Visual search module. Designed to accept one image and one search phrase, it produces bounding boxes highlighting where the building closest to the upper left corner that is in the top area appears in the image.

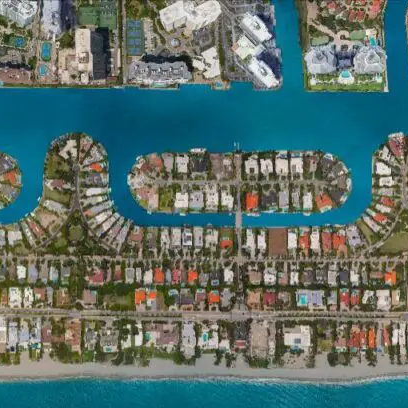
[0,0,39,28]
